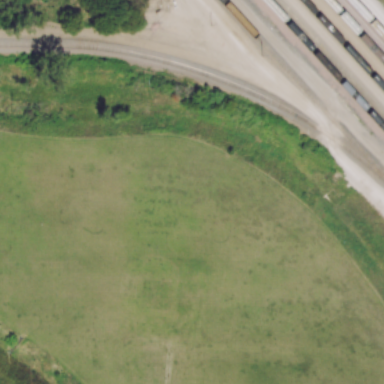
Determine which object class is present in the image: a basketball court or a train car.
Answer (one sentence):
Looking from above, you can make out a train car.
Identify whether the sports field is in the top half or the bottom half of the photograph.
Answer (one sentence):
You can find the sports field in the bottom half.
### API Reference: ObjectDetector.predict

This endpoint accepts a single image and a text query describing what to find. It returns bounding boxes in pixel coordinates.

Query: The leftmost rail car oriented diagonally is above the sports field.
[226,0,261,38]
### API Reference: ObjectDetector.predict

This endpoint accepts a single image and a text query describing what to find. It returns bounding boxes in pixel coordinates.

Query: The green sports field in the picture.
[0,130,384,384]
